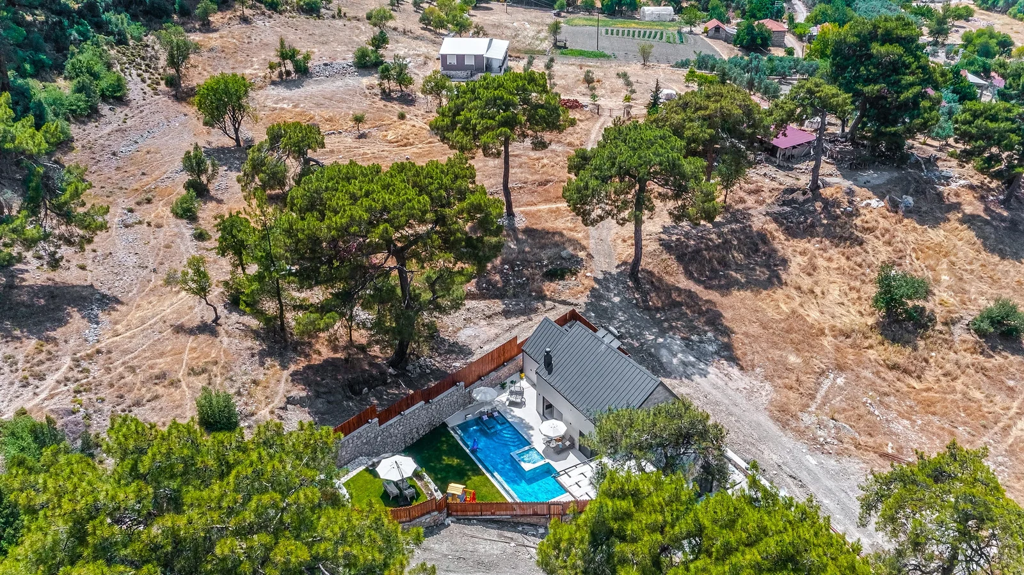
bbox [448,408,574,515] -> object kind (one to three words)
swimming pool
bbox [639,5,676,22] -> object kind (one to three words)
greenhouse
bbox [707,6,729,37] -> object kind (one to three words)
house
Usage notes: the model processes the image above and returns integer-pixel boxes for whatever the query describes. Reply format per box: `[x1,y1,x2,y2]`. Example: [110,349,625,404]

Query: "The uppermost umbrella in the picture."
[473,384,496,408]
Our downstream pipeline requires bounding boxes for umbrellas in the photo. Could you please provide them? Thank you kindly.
[540,425,568,453]
[473,384,496,408]
[374,456,420,509]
